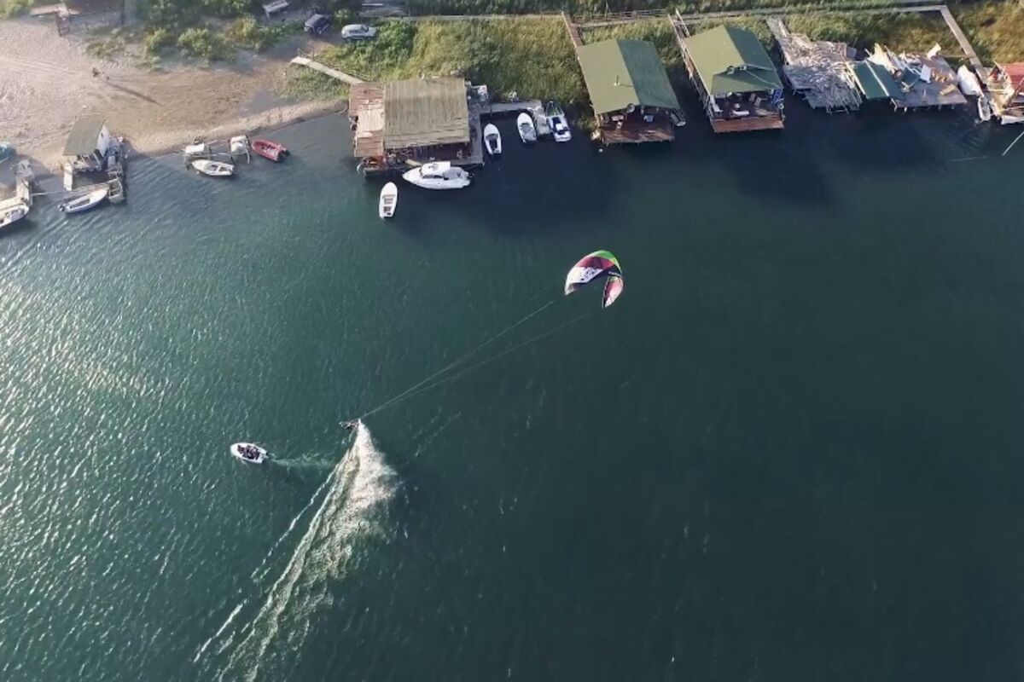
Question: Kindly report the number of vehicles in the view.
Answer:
two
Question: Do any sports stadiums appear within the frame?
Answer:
No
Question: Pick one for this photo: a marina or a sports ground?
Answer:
marina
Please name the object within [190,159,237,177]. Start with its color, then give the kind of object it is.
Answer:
white boat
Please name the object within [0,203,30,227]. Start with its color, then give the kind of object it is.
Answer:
white boat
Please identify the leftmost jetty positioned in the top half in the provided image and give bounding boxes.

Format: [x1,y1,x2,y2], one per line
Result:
[13,176,32,205]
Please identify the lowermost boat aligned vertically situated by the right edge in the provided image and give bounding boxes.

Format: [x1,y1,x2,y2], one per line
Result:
[977,94,990,124]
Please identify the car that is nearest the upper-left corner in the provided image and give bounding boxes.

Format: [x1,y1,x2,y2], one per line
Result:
[303,5,333,33]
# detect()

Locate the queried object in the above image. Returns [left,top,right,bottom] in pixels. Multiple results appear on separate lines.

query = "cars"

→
[303,5,333,33]
[340,20,377,40]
